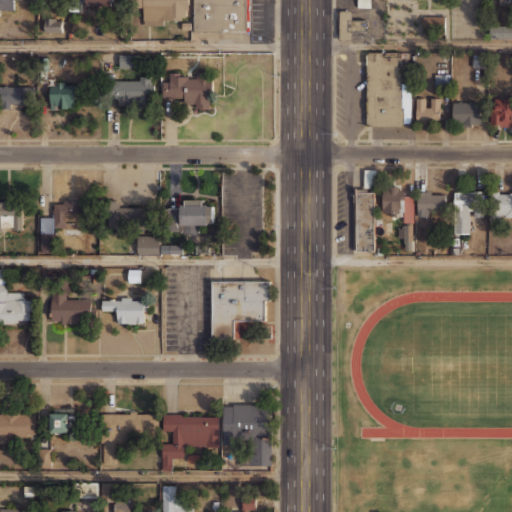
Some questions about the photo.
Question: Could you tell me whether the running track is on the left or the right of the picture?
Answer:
right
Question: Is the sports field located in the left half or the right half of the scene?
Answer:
right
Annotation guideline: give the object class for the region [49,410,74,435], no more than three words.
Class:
house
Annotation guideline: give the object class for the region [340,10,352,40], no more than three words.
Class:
building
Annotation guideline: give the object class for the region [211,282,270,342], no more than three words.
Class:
building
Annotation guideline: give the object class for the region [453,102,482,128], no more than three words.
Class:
house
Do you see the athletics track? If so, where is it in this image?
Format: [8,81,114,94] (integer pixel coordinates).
[352,292,512,442]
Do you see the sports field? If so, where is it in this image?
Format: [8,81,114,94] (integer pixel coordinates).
[414,315,512,415]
